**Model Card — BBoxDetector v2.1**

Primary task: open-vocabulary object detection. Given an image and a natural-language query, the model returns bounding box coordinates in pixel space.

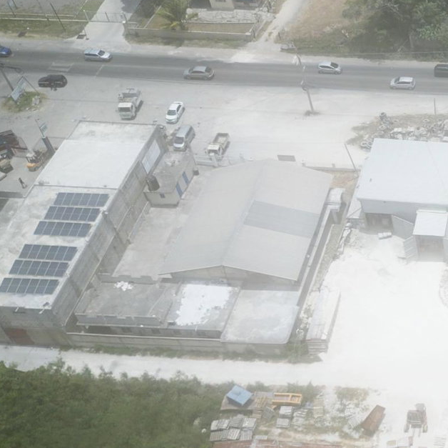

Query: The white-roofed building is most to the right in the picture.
[340,139,448,252]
